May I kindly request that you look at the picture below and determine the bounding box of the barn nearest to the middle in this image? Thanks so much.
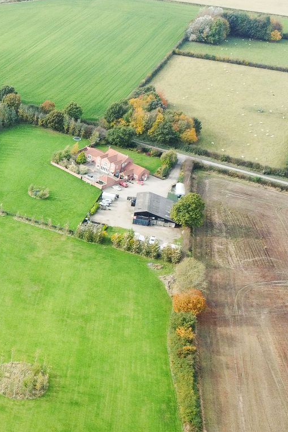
[130,188,181,228]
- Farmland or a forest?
farmland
